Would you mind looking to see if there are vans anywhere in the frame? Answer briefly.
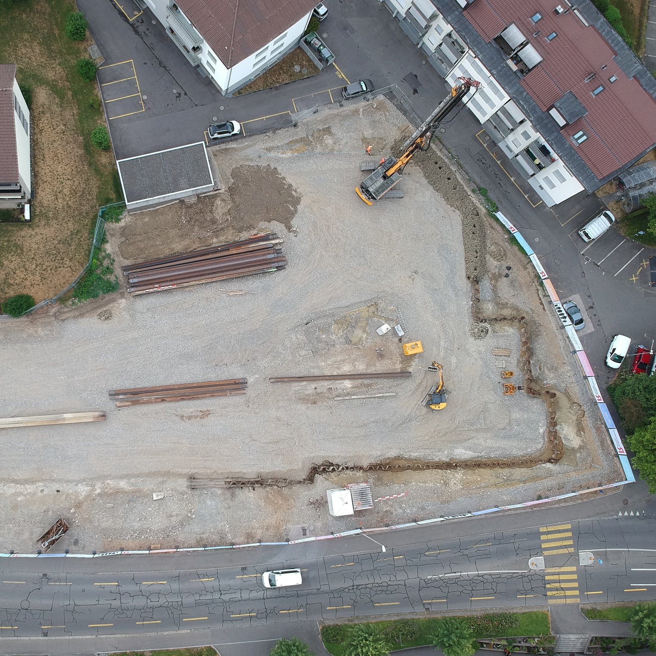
Yes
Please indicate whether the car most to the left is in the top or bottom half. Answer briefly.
top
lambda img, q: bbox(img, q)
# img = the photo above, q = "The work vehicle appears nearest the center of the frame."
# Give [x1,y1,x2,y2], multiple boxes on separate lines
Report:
[420,362,451,416]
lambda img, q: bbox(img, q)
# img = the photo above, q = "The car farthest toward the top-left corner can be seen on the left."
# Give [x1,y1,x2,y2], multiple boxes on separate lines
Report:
[207,118,241,140]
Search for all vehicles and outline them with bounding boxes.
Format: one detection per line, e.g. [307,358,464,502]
[602,332,633,371]
[630,346,651,380]
[420,362,451,416]
[261,568,302,589]
[207,118,241,140]
[340,78,375,99]
[572,208,616,246]
[562,296,591,333]
[316,2,332,26]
